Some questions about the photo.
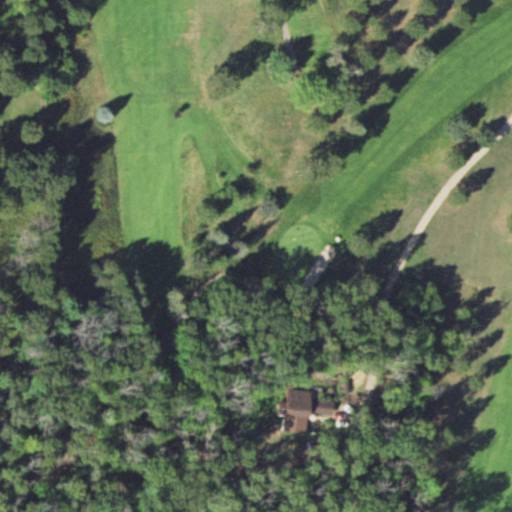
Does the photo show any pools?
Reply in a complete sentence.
No, this view has no pool in it.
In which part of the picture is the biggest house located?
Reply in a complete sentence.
The biggest house appears toward the bottom of the photo.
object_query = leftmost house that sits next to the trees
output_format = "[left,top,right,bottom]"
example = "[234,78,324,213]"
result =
[280,390,312,434]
